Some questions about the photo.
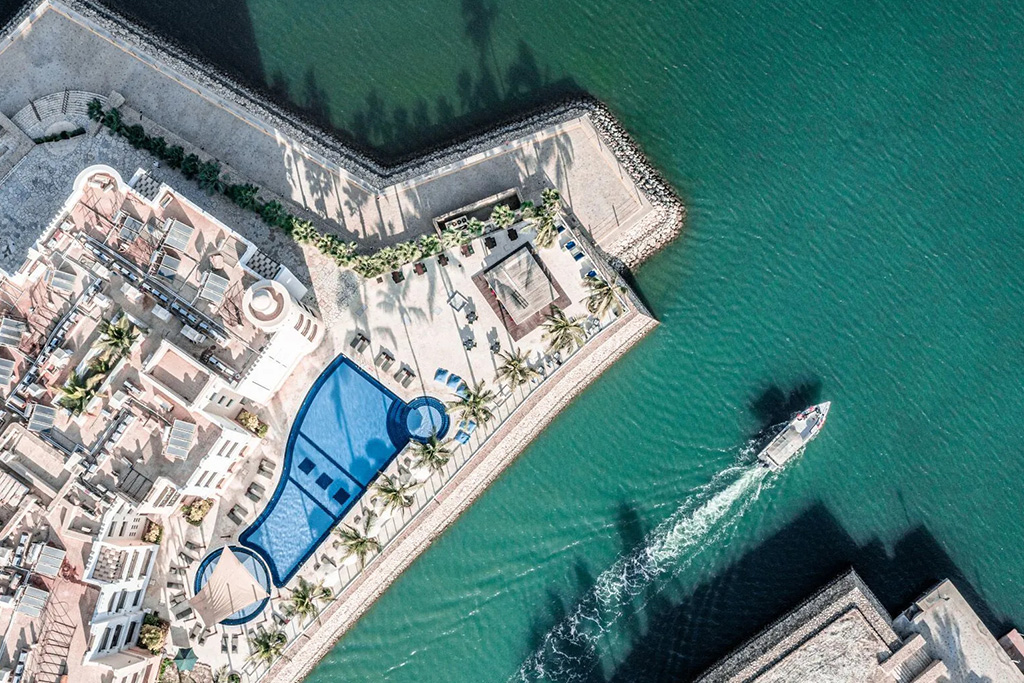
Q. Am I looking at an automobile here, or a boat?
boat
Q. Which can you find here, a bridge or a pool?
pool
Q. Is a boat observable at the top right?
No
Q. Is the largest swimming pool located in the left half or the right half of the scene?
left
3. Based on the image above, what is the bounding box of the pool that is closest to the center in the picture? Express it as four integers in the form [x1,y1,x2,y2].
[403,397,451,444]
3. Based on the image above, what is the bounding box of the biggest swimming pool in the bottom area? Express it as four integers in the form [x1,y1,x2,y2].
[238,350,453,592]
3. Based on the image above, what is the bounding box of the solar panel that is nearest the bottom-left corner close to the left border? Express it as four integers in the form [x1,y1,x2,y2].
[12,585,54,617]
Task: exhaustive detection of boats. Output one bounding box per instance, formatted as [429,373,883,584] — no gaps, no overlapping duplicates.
[758,401,831,472]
